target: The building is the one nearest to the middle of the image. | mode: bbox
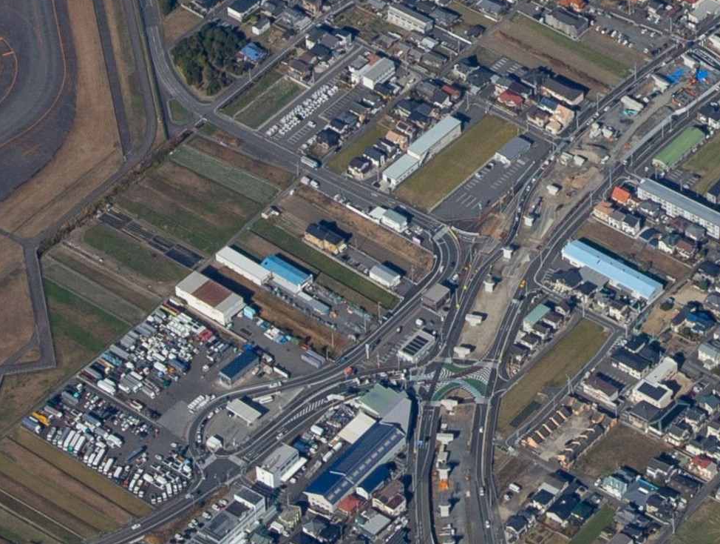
[368,262,402,291]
